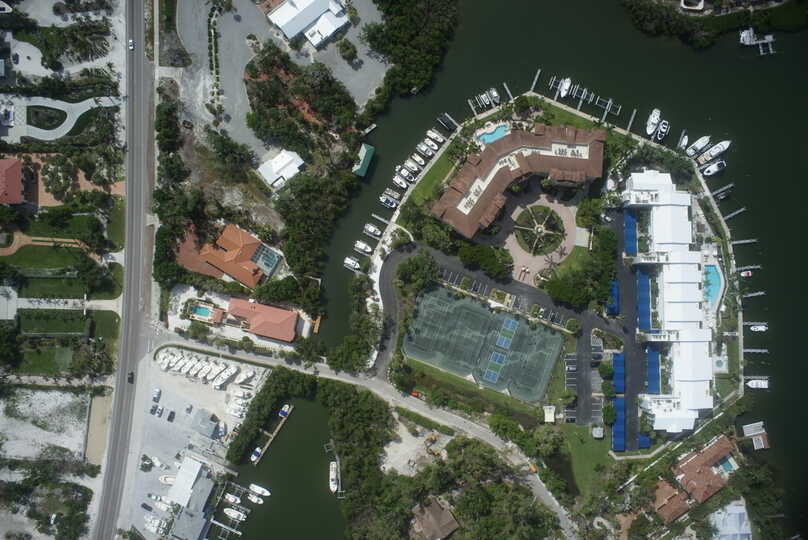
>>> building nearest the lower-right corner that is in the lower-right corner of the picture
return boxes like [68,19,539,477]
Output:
[712,500,753,540]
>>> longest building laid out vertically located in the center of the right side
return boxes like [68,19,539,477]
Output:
[623,170,713,433]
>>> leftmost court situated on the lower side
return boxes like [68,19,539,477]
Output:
[413,295,457,358]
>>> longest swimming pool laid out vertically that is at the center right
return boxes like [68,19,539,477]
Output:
[703,264,721,309]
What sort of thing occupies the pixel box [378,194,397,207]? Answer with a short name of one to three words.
boat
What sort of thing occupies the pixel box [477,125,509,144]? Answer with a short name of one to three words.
swimming pool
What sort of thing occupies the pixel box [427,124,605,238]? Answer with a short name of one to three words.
building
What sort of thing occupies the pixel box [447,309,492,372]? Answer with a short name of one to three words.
tennis court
